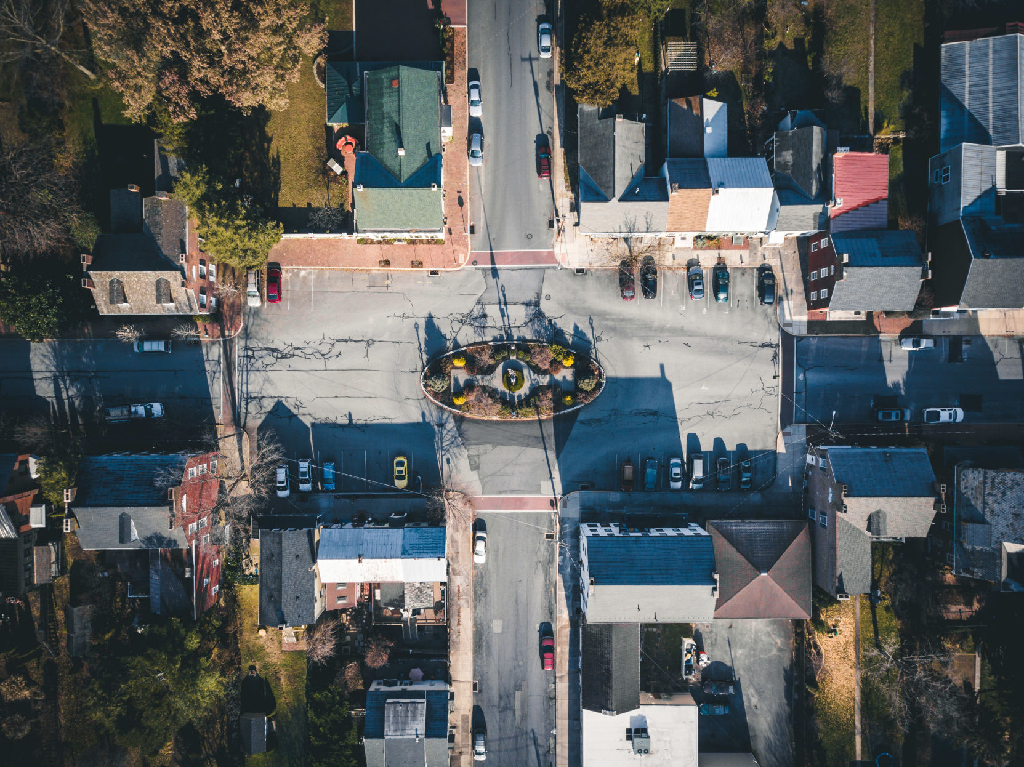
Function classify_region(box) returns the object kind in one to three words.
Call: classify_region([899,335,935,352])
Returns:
car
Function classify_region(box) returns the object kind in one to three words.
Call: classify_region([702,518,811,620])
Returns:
building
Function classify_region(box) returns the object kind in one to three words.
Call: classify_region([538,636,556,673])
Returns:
vehicle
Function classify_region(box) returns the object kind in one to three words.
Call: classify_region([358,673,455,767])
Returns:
house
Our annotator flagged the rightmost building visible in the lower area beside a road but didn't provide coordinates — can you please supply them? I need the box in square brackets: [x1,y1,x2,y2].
[930,447,1024,595]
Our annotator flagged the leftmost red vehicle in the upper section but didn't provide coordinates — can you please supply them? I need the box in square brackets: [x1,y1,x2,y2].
[265,266,283,304]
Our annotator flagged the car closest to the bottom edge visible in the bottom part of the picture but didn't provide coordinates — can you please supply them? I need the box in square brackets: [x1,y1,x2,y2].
[471,726,488,759]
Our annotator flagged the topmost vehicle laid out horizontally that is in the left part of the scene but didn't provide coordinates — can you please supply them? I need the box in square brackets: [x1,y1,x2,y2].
[133,337,174,355]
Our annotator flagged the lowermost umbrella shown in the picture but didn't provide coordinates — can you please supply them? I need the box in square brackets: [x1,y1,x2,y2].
[409,667,423,681]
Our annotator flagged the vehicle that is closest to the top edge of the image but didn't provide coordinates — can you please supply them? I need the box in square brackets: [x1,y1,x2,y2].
[537,22,554,61]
